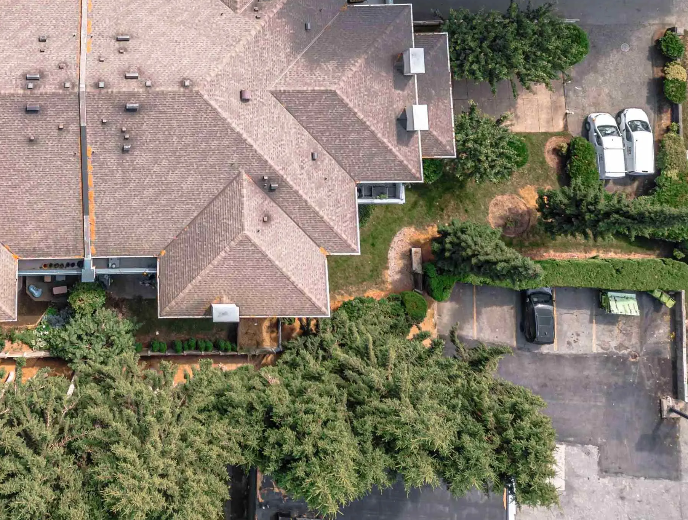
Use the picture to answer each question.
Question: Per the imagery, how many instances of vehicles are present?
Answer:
3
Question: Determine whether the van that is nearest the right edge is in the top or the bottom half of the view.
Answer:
top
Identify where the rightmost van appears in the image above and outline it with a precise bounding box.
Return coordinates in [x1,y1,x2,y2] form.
[616,109,656,175]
